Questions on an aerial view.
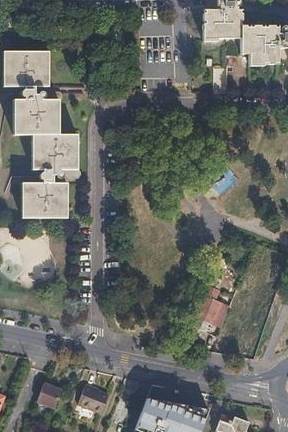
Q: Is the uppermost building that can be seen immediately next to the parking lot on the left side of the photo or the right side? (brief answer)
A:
right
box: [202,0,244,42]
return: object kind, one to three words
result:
building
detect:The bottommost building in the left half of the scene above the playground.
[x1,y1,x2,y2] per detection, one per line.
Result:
[22,170,70,218]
